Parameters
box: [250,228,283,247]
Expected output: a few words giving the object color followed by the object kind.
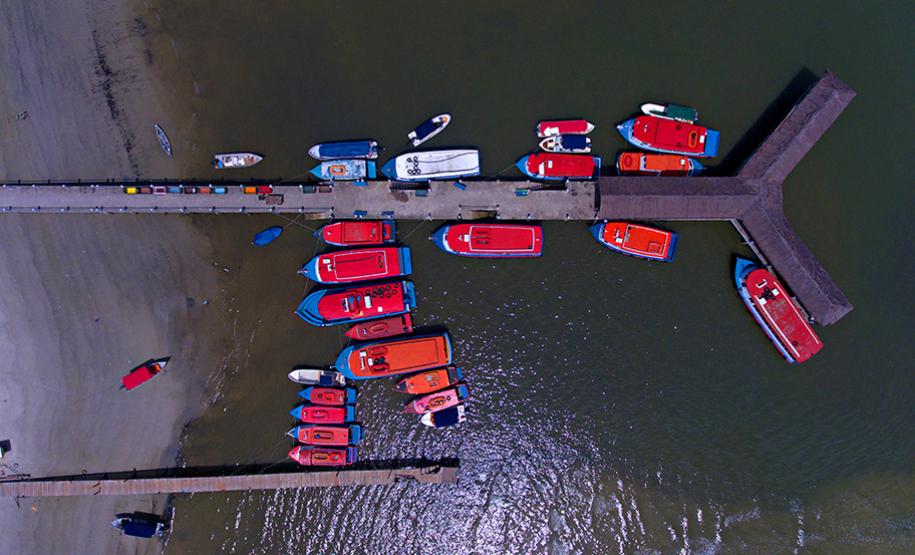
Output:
blue boat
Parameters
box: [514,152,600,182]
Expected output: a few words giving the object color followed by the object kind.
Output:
red boat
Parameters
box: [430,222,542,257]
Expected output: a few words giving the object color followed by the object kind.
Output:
red boat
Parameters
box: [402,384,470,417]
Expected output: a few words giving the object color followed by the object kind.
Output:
pink boat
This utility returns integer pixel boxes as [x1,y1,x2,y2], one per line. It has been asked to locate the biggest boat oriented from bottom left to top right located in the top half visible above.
[409,116,450,147]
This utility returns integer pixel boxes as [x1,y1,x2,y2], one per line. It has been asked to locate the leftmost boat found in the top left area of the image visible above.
[153,123,172,156]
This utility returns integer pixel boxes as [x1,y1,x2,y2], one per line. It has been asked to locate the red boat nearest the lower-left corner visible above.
[120,357,172,390]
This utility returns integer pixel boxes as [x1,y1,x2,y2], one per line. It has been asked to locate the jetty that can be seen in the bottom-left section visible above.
[0,464,459,497]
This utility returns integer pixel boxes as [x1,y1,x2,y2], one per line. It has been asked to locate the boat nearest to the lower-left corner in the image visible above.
[110,517,167,542]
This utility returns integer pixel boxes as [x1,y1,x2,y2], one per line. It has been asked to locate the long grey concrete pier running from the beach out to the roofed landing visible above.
[0,181,812,319]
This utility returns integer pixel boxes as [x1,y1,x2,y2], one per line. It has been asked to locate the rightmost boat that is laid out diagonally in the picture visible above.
[734,257,819,362]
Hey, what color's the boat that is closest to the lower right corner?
red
